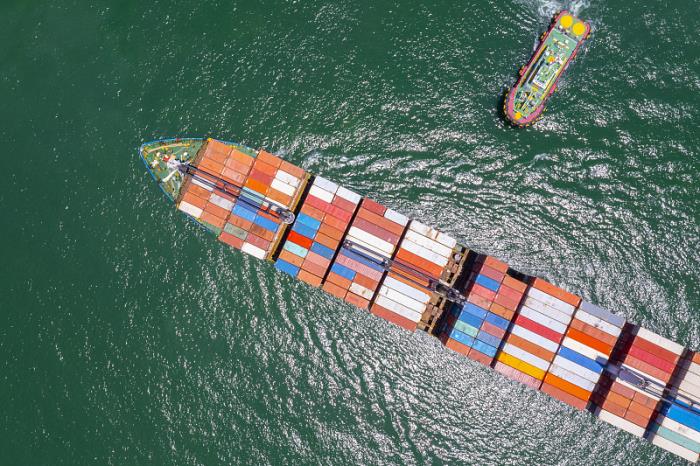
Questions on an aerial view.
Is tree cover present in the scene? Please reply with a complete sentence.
No, no tree cover is visible.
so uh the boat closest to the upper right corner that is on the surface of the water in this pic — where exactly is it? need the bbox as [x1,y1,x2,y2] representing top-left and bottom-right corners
[503,12,589,128]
